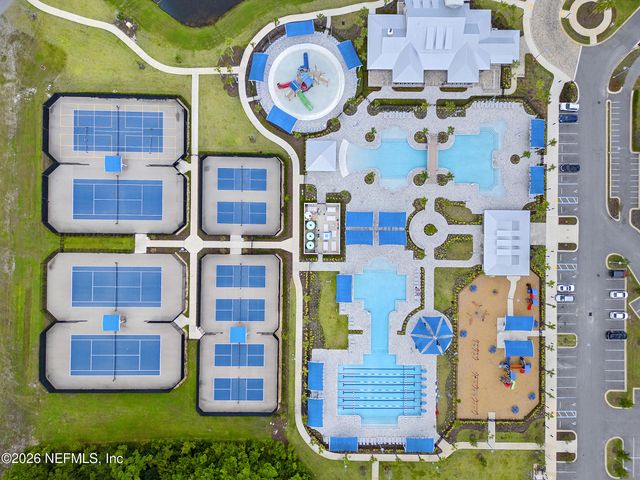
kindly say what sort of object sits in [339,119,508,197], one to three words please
swimming pool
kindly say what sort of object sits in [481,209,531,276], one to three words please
building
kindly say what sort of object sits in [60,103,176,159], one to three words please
tennis court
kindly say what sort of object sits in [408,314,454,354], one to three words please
umbrella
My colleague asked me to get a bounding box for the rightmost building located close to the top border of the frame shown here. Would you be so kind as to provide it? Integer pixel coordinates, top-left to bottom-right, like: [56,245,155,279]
[368,0,520,87]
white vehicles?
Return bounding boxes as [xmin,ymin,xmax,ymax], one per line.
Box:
[609,311,628,320]
[559,102,579,112]
[556,284,575,292]
[609,291,628,299]
[555,294,574,302]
